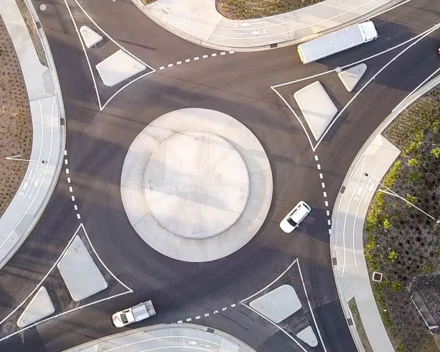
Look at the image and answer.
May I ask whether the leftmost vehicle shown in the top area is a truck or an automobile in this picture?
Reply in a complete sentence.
The leftmost vehicle shown in the top area is a truck.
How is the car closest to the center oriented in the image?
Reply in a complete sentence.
What the image shows is the car closest to the center lying on a diagonal.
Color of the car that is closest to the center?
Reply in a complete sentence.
The car that is closest to the center looks white in the image.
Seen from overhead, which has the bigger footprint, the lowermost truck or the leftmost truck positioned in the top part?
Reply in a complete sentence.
It is the leftmost truck positioned in the top part that is larger, not the lowermost truck.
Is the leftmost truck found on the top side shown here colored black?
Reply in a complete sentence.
No, from above the leftmost truck found on the top side looks white.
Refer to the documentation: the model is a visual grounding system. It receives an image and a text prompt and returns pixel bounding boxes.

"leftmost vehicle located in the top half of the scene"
[291,19,377,67]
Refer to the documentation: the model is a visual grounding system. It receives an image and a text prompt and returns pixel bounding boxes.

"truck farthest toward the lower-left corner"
[112,299,157,327]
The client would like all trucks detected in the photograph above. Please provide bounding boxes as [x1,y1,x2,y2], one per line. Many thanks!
[112,299,157,327]
[291,19,377,67]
